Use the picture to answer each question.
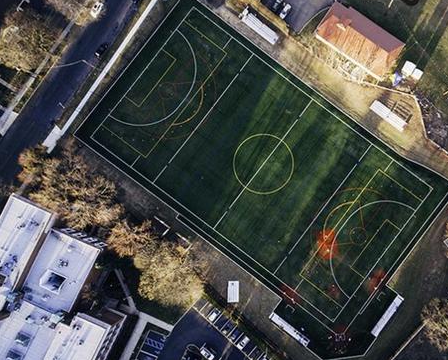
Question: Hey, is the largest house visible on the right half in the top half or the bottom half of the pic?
top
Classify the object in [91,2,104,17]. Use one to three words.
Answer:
vehicle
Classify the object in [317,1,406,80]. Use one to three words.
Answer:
house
